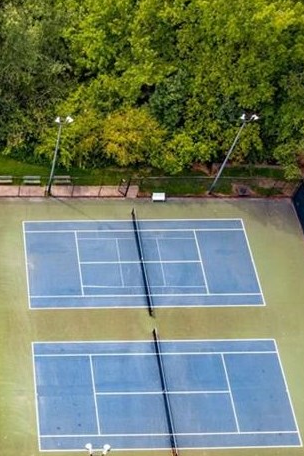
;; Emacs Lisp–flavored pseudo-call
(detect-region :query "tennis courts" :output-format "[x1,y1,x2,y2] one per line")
[22,218,264,308]
[32,340,301,450]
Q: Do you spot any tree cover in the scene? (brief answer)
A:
Yes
